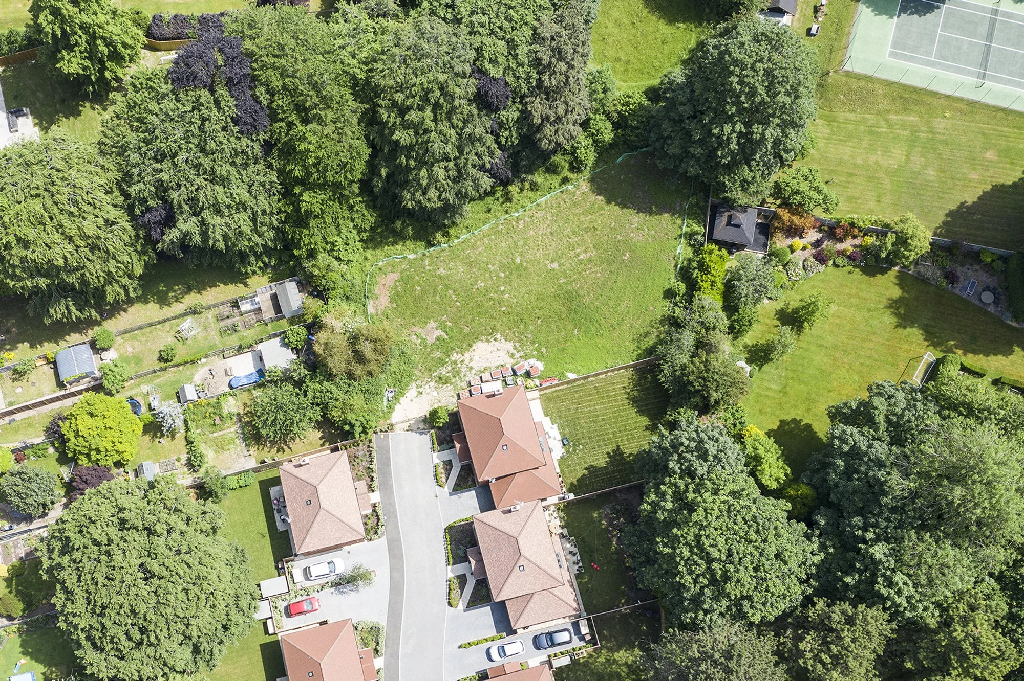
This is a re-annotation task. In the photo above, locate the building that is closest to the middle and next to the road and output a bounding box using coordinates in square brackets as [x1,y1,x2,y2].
[452,385,562,509]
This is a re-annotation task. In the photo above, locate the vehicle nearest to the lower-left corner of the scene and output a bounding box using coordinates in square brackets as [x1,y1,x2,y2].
[287,596,321,618]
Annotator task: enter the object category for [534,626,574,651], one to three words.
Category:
car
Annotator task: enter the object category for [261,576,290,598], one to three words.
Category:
shed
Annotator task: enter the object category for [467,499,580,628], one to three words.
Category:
house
